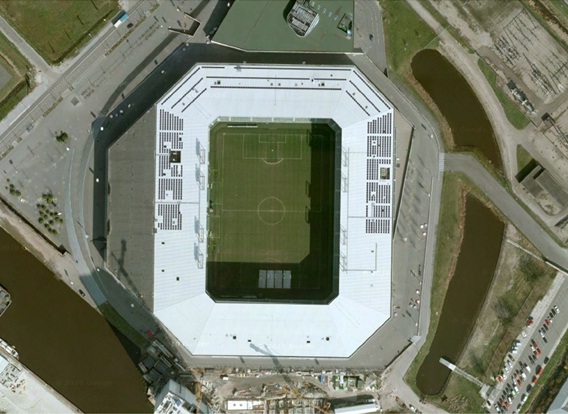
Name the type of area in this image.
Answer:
sports ground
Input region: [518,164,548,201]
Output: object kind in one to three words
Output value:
shed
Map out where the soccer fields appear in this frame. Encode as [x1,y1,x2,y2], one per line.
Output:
[209,123,335,297]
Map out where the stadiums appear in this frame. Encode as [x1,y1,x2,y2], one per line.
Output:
[105,64,395,358]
